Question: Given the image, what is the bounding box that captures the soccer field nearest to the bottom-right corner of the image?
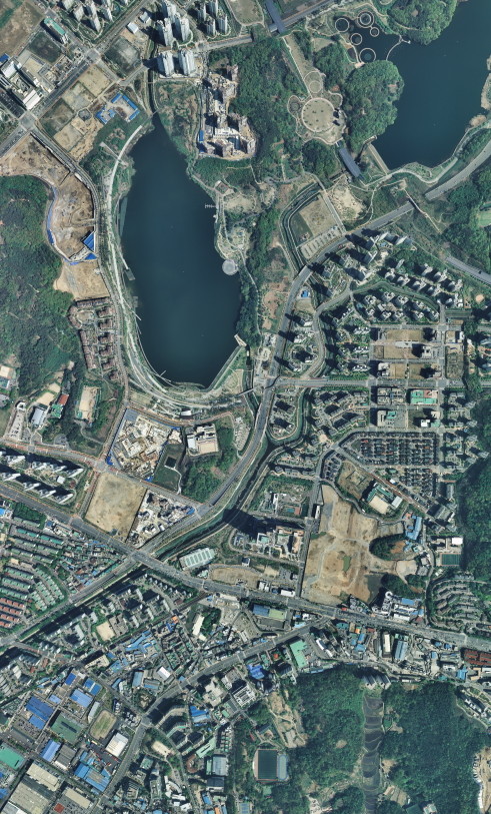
[254,749,278,781]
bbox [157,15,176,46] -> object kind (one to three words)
building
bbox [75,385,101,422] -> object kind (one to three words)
sports field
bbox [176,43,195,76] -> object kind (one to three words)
building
